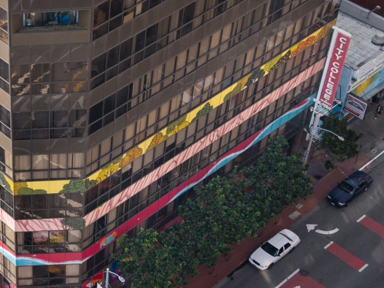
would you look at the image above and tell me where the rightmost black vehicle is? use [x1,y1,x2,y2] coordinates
[329,170,379,211]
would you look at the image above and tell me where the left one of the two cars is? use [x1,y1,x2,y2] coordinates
[251,228,305,273]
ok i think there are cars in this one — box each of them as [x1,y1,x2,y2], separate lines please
[251,228,305,273]
[329,170,379,211]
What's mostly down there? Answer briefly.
buildings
